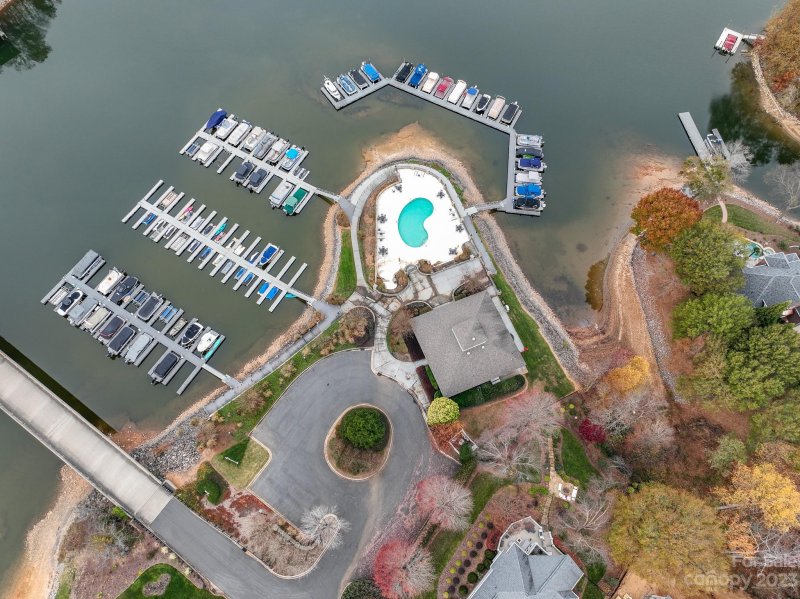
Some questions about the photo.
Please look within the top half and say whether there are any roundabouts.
No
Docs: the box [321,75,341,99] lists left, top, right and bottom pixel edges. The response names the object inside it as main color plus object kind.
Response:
white boat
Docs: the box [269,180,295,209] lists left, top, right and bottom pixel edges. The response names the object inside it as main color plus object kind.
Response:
white boat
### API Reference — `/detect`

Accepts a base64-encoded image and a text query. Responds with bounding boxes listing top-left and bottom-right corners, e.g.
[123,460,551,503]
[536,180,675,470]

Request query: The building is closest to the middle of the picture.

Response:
[411,291,527,398]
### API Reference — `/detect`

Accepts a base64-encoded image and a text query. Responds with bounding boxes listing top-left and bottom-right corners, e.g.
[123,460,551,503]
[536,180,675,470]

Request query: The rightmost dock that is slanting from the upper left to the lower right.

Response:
[680,110,739,185]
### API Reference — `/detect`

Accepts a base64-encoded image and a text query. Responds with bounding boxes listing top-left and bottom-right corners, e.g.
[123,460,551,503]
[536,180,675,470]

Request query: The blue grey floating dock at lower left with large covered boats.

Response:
[41,258,238,396]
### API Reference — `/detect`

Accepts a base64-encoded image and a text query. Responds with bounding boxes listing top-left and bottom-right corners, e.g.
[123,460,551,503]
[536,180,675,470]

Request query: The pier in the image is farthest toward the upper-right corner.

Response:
[702,26,766,70]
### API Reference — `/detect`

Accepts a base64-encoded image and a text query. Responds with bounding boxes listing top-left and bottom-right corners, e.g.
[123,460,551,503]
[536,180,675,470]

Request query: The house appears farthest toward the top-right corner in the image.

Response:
[742,251,800,317]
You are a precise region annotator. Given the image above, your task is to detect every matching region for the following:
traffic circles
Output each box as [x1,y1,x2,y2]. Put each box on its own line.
[323,402,393,481]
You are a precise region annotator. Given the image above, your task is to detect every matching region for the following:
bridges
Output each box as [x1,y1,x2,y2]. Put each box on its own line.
[0,344,174,523]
